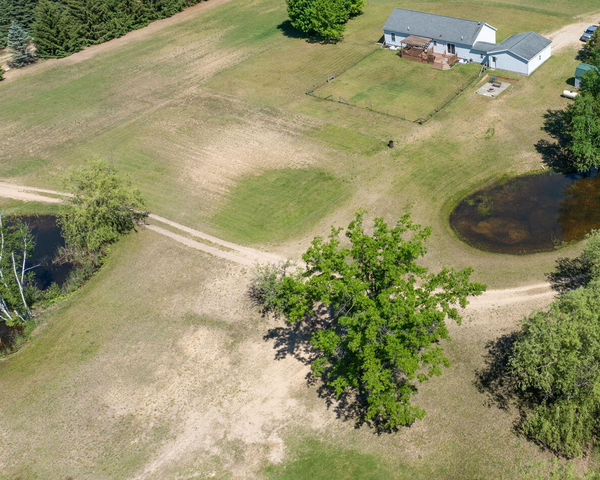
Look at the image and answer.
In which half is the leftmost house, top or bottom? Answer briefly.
top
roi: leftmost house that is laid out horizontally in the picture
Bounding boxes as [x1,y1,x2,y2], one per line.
[382,7,557,74]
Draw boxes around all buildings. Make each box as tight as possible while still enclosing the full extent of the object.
[574,62,600,91]
[382,7,557,74]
